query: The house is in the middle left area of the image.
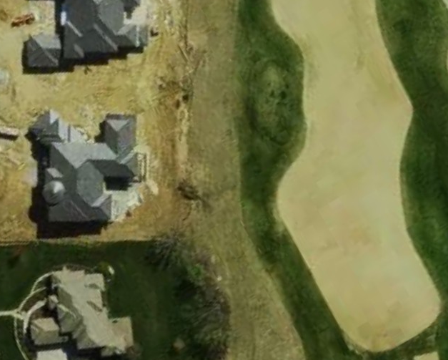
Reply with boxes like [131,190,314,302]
[27,108,137,224]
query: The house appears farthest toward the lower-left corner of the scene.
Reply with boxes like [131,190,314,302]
[28,271,134,357]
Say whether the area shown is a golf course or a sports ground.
golf course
